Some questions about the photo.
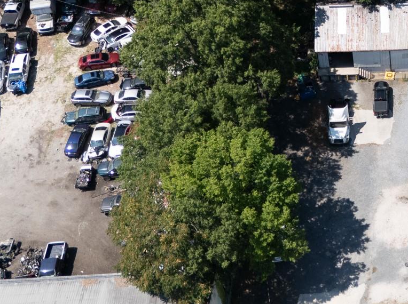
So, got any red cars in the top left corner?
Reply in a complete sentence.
Yes, I can see a red car in the top left corner.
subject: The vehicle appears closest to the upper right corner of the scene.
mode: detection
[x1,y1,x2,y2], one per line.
[373,79,392,116]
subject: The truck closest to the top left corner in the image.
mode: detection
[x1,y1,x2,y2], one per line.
[1,0,27,28]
